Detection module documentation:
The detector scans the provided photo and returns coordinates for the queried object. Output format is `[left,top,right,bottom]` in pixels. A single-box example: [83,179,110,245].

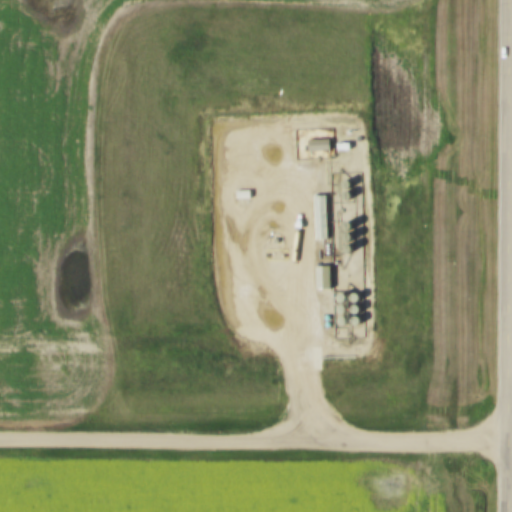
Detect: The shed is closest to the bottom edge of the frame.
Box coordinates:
[316,266,330,290]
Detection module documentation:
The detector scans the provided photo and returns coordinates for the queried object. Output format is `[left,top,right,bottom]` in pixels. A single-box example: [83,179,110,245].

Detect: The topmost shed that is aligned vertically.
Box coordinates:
[314,194,328,240]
